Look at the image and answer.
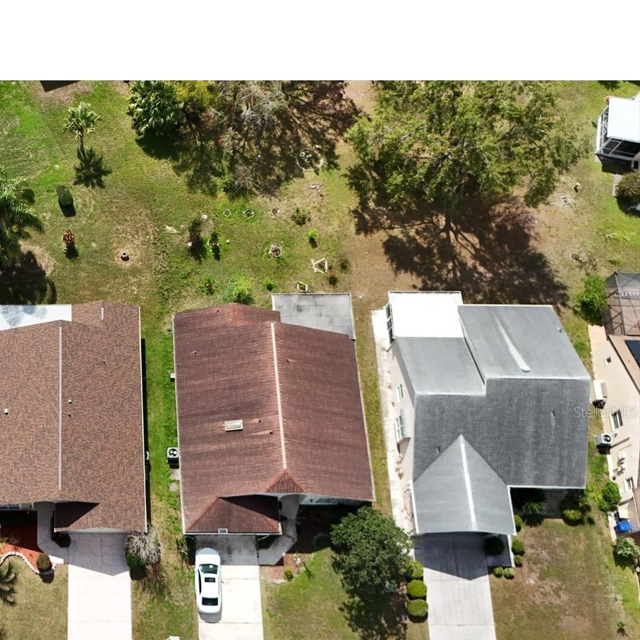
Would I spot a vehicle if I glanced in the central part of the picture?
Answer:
No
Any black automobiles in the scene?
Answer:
No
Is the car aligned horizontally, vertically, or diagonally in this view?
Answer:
vertically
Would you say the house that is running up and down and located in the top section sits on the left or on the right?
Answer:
right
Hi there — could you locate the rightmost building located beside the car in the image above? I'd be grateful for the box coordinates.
[173,293,374,535]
